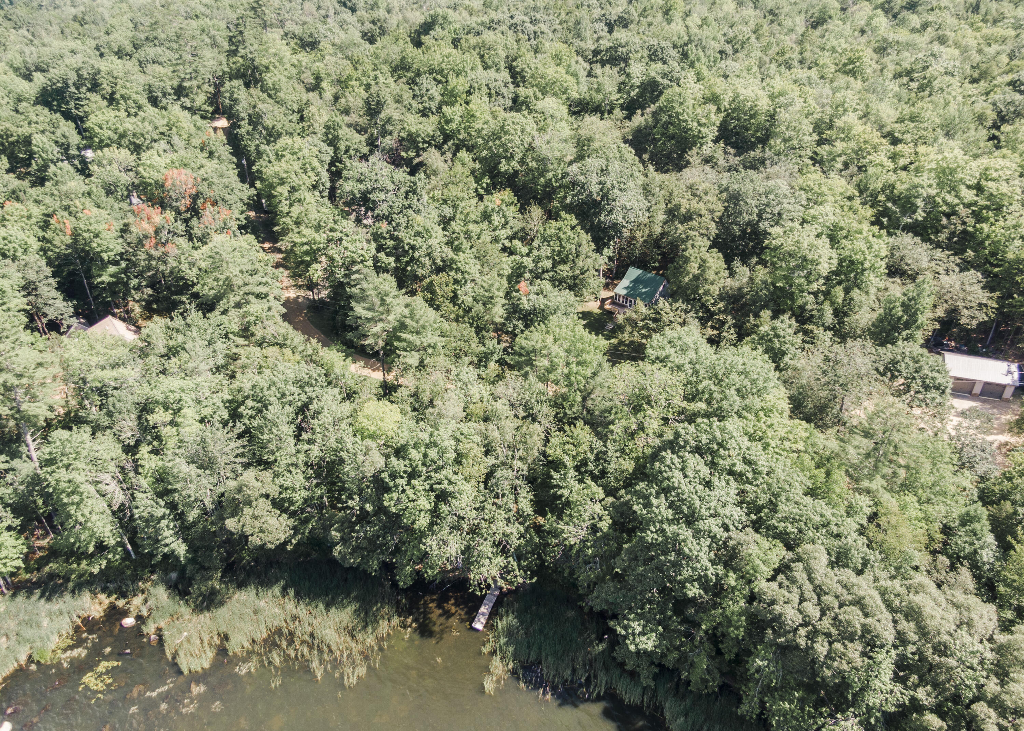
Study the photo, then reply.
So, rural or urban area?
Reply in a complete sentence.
The area is rural.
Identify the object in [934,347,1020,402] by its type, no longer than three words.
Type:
building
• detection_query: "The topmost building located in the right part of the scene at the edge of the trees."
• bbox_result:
[603,266,670,325]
